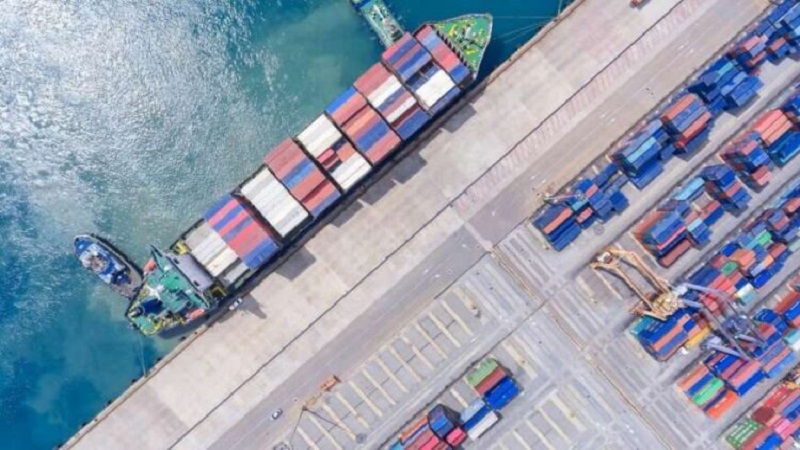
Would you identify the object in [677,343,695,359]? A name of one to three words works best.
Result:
vehicle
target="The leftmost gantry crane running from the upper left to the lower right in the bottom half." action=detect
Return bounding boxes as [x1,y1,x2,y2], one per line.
[589,246,684,327]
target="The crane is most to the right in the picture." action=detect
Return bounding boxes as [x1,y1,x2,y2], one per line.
[673,281,772,363]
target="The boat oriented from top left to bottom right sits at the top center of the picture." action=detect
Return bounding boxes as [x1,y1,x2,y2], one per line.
[348,0,408,55]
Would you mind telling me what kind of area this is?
port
